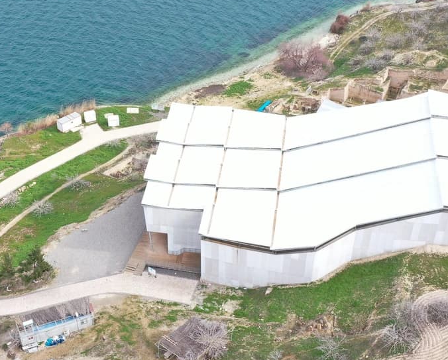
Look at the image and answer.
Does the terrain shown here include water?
Yes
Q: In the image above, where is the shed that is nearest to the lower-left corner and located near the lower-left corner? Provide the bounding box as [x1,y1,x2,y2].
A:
[10,293,93,352]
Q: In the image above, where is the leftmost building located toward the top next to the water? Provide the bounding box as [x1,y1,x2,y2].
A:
[58,110,82,132]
